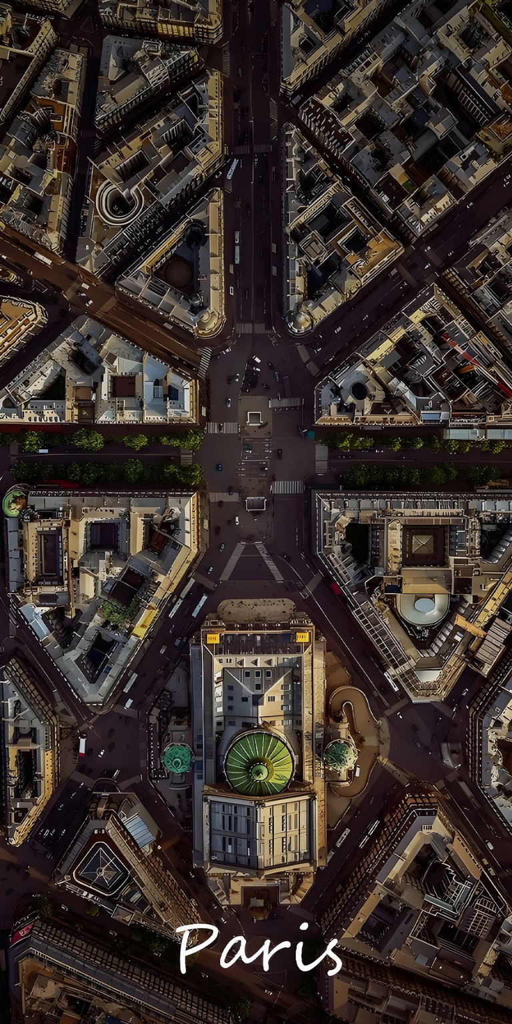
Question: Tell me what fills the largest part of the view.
buildings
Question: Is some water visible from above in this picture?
No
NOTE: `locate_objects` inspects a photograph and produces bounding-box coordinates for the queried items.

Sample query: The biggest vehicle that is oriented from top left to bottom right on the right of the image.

[381,674,396,692]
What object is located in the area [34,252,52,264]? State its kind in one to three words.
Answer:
vehicle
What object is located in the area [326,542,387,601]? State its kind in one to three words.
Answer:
building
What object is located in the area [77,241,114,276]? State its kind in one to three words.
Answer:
building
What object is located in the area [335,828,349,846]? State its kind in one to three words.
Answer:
vehicle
